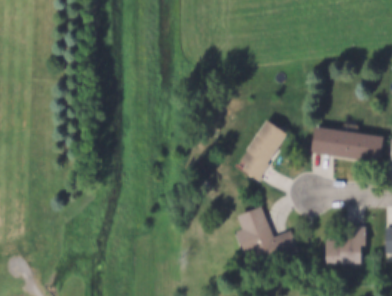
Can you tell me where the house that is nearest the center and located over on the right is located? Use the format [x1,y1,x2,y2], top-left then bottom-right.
[237,120,288,179]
